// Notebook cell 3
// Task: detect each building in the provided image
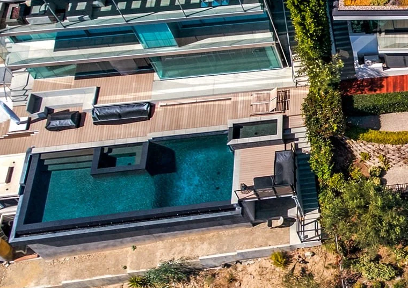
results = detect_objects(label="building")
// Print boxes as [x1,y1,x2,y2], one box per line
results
[0,0,291,80]
[333,0,408,82]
